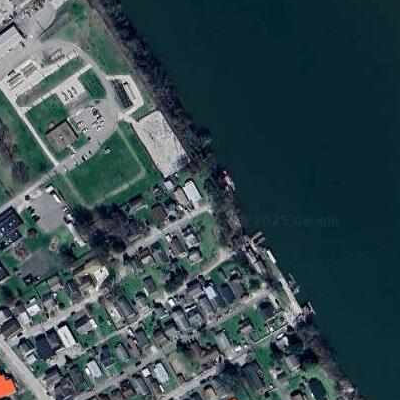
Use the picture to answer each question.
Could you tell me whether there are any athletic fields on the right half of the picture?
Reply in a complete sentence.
No, no athletic field appears on the right half of the picture.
